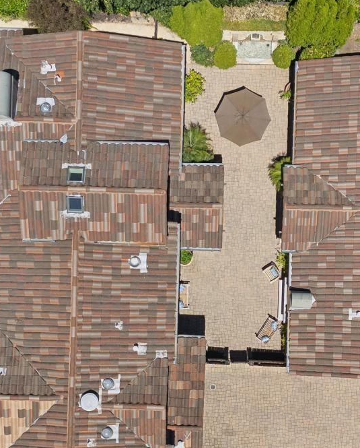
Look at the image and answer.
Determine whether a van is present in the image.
No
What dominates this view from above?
buildings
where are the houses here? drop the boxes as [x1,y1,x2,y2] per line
[0,26,227,448]
[277,52,360,381]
